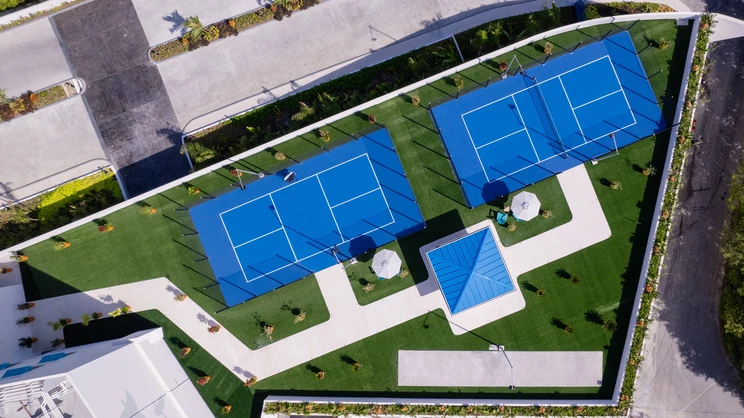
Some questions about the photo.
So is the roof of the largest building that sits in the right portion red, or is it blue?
blue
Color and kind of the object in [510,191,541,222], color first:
white umbrella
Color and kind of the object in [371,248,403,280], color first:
white umbrella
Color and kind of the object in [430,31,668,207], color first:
blue sports court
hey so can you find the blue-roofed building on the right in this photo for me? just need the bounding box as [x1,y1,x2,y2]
[426,225,517,315]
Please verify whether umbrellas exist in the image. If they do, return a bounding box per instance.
[510,191,541,222]
[371,248,403,280]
